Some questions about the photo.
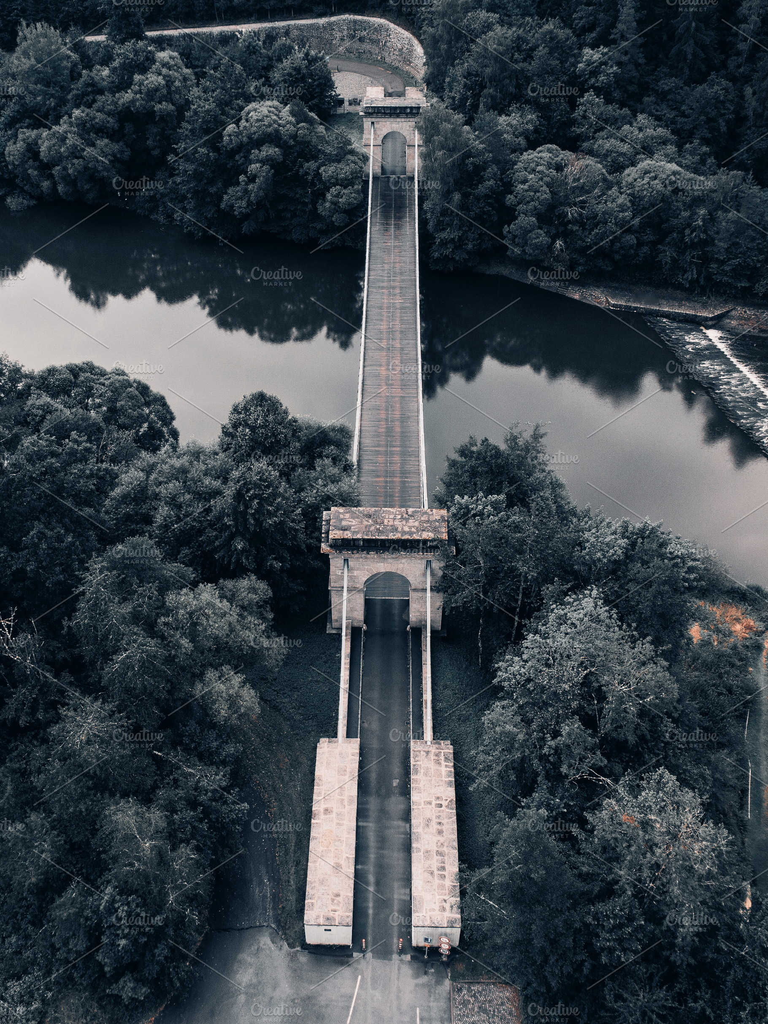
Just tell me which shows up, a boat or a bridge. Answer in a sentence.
Looking from above, you can make out a bridge.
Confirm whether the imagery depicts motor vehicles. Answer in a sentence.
No, no motor vehicle can be seen from above.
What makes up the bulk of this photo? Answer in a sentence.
The largest share of the image is taken up by trees.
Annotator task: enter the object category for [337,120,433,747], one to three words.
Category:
bridge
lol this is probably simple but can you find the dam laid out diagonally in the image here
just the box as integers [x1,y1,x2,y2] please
[643,314,768,457]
